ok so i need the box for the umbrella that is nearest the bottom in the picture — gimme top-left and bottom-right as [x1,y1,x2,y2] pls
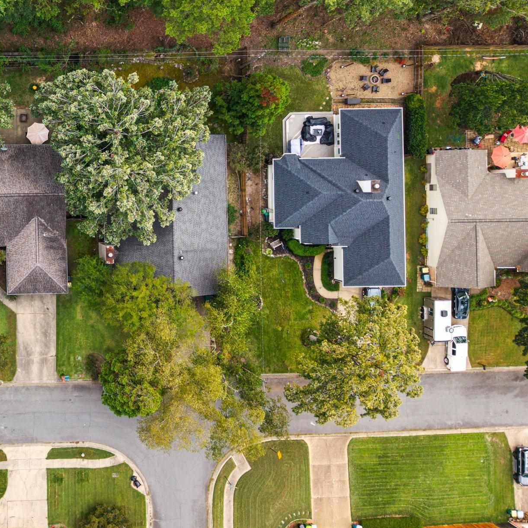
[488,146,512,167]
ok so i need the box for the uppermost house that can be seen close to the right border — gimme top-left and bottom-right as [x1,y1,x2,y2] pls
[427,149,528,287]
